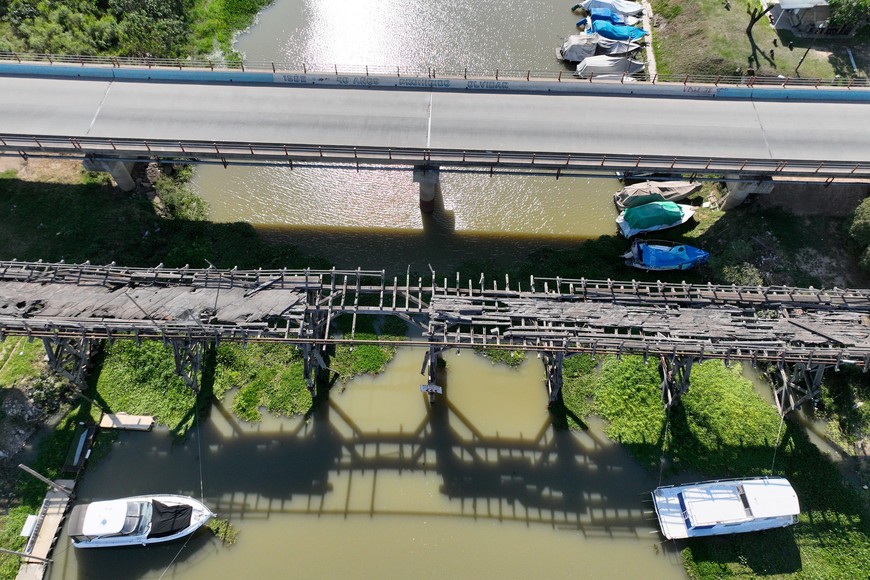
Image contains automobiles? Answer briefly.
No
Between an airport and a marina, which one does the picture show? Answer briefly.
marina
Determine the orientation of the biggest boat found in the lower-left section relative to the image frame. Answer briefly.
from left to right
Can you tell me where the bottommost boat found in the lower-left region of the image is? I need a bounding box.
[67,494,214,548]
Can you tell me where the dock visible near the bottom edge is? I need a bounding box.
[23,463,82,580]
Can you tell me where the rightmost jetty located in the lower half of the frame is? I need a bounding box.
[99,412,155,428]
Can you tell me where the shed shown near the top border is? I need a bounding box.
[753,0,851,52]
